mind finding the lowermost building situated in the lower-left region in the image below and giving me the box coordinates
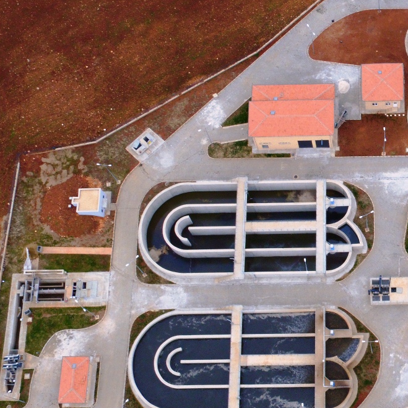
[58,356,100,408]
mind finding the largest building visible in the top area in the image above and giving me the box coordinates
[247,83,338,158]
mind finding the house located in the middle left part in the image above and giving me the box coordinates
[71,189,112,218]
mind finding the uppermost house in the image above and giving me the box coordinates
[361,63,405,113]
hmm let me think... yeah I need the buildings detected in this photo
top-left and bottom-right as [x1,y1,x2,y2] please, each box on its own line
[361,63,405,113]
[71,189,112,218]
[247,83,338,158]
[58,356,100,408]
